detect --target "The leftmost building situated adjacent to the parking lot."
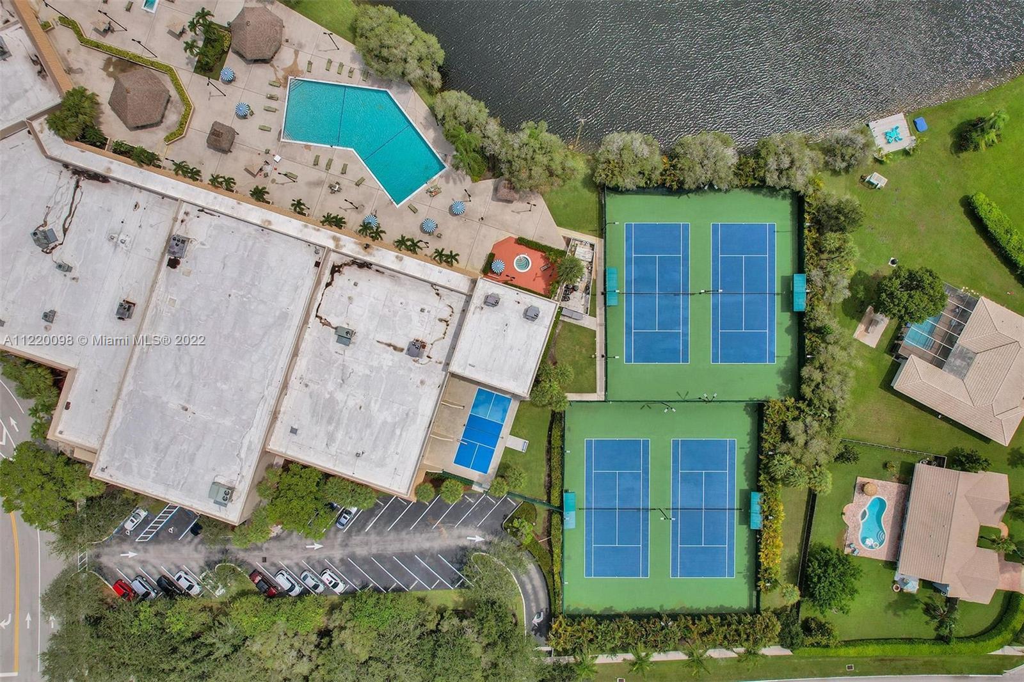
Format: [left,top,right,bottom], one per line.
[0,0,560,528]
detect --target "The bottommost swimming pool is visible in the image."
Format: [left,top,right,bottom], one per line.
[858,495,889,552]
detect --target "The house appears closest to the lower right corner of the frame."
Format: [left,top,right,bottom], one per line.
[892,463,1010,604]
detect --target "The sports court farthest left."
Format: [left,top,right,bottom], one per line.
[453,387,512,474]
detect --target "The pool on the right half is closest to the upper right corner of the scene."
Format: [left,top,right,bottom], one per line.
[903,304,949,352]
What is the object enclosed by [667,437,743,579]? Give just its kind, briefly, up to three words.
tennis court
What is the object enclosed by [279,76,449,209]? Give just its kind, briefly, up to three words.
swimming pool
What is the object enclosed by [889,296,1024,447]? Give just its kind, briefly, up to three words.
house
